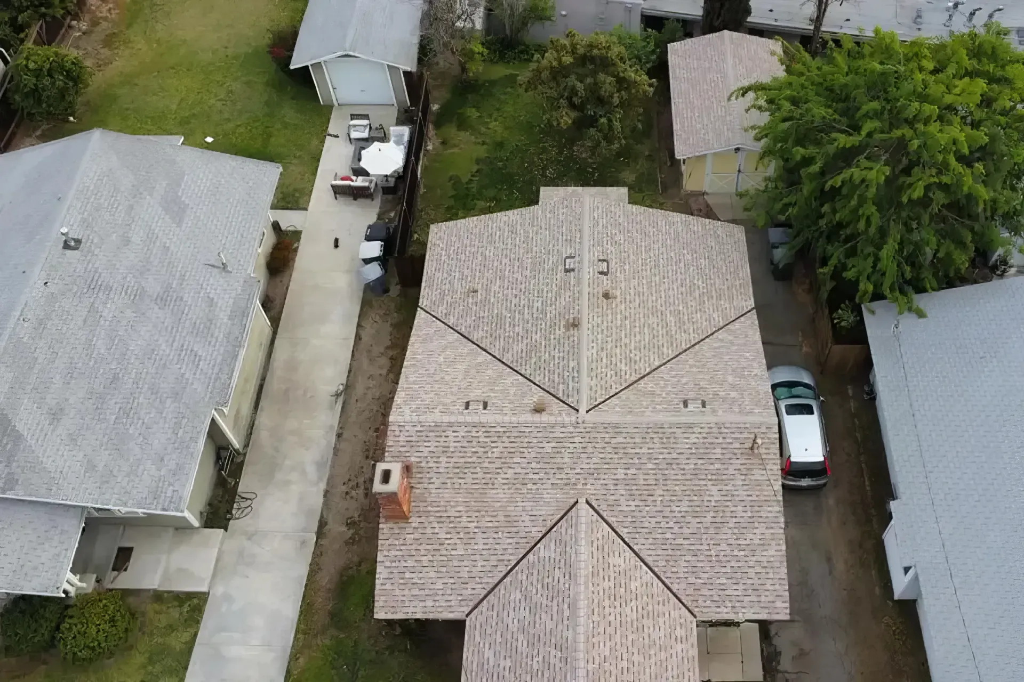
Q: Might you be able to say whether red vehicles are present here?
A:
No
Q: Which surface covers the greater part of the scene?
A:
buildings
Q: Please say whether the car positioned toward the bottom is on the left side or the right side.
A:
right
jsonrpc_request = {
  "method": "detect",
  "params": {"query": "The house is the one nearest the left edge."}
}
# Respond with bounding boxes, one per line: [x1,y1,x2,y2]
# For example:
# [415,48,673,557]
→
[0,126,283,607]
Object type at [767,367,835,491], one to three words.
car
